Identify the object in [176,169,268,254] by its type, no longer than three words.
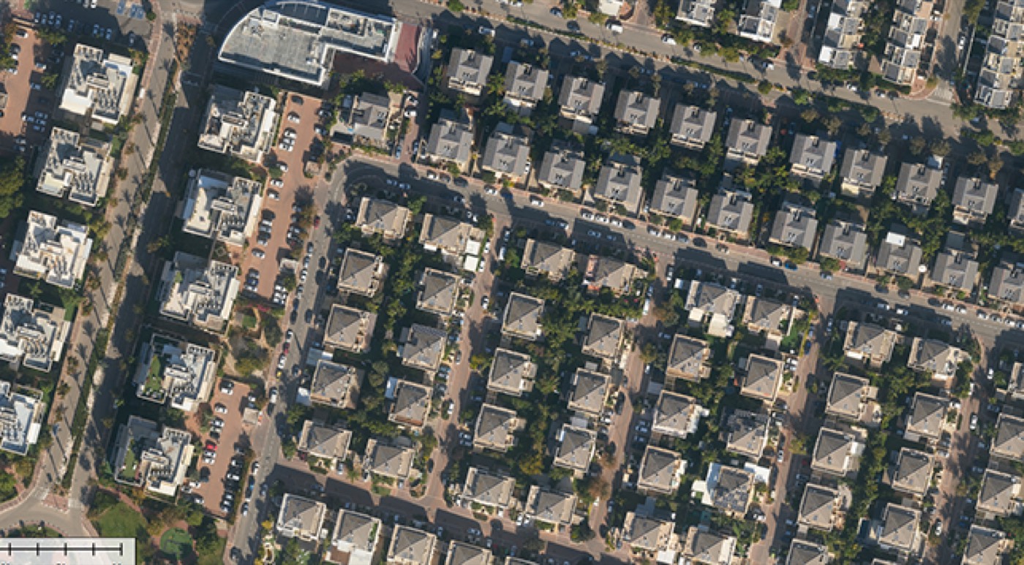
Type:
building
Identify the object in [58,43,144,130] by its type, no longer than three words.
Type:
building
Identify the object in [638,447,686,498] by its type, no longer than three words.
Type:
house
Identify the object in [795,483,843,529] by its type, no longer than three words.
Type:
house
